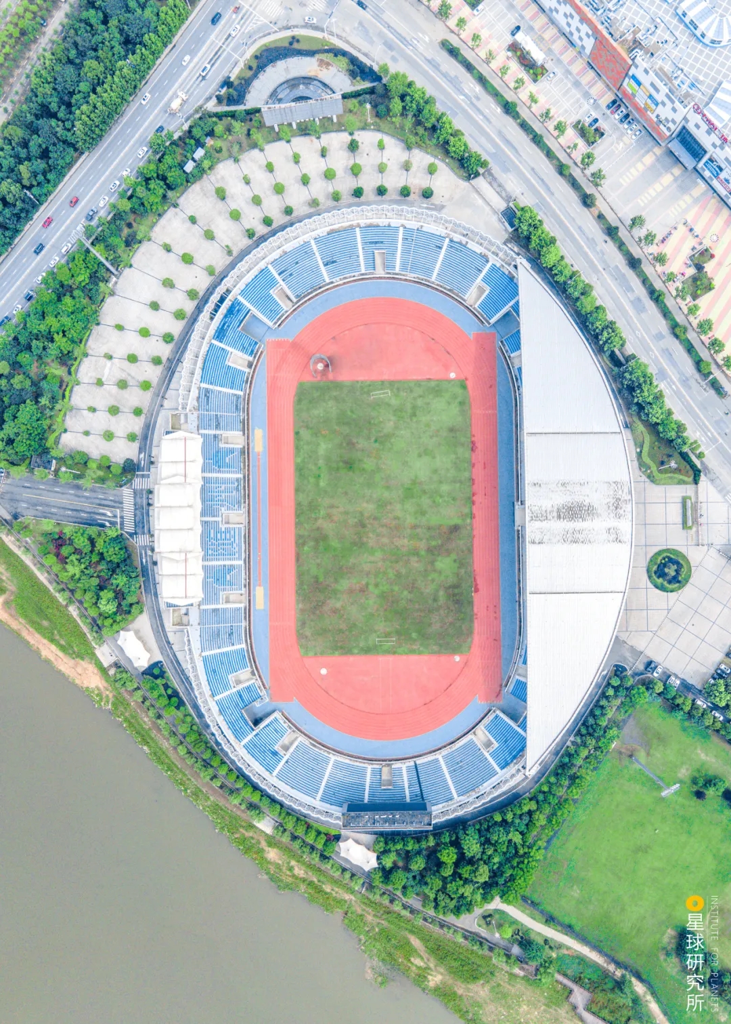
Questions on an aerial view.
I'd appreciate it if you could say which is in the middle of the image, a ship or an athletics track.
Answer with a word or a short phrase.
athletics track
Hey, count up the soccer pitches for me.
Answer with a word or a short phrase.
one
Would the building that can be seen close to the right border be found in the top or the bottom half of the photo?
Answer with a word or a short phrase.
top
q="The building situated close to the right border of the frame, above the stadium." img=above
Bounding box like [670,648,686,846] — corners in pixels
[535,0,731,210]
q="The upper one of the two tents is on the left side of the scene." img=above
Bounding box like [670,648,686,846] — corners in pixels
[117,630,153,667]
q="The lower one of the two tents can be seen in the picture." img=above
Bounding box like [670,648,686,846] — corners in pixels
[339,837,377,871]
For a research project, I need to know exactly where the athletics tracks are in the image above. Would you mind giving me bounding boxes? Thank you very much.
[247,283,522,764]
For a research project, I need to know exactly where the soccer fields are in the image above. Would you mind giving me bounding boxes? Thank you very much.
[294,380,474,656]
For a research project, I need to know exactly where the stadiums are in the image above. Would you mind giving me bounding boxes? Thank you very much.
[154,203,635,841]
